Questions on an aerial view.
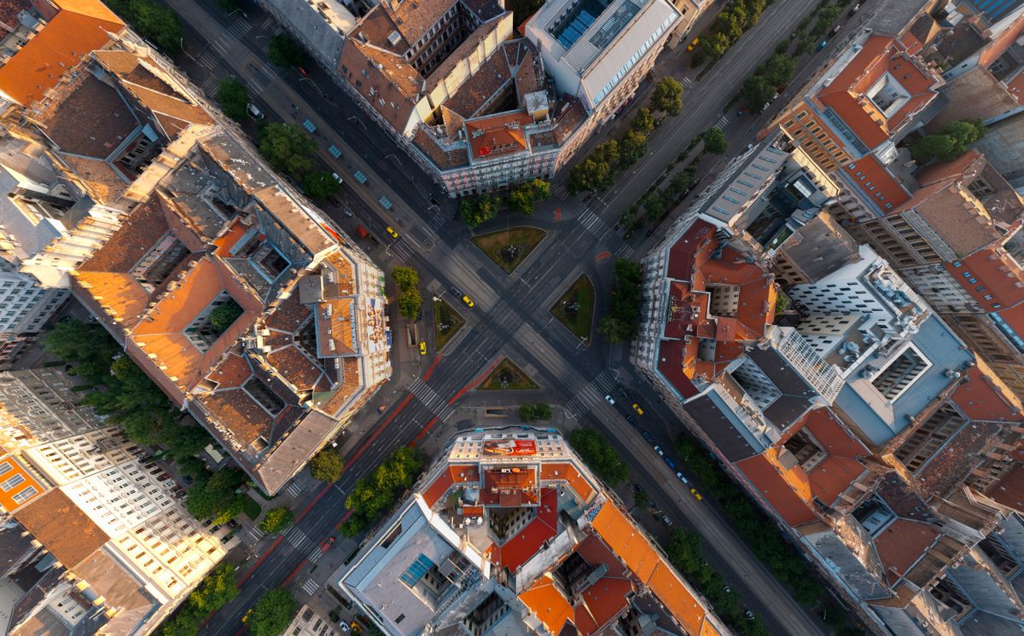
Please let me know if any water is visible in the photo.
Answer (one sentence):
No, water can't be seen anywhere here.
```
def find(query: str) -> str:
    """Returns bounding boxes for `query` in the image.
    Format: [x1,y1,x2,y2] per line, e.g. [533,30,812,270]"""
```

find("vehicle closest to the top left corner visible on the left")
[246,102,263,118]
